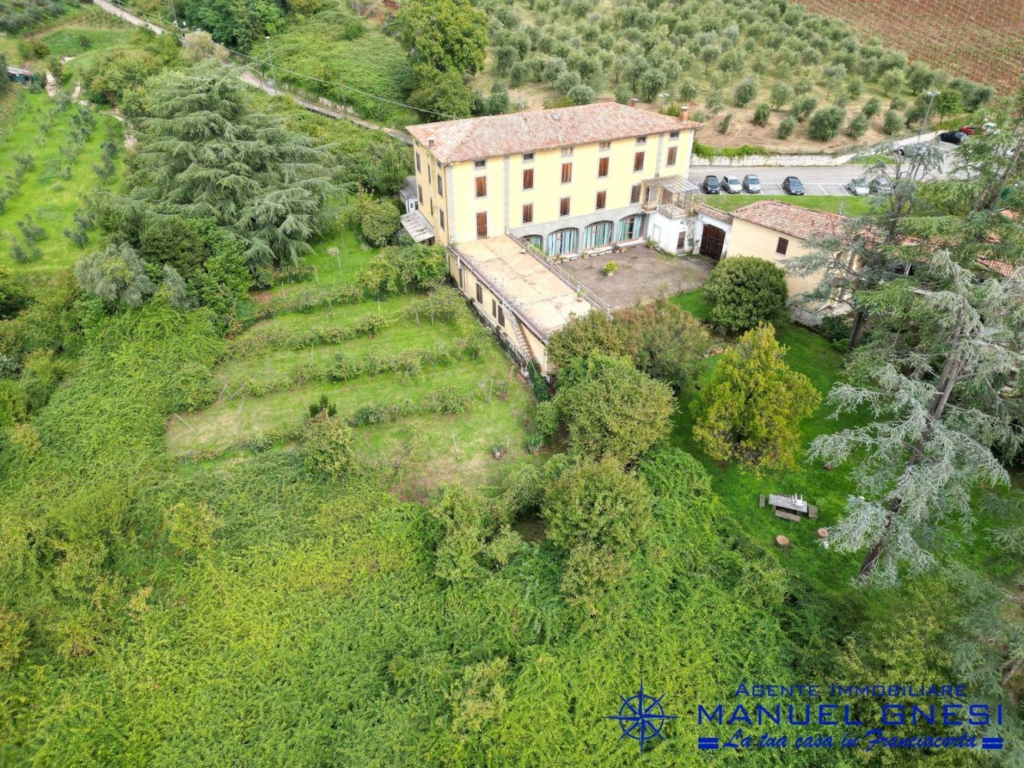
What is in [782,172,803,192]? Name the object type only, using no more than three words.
car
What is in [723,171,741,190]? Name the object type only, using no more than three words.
car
